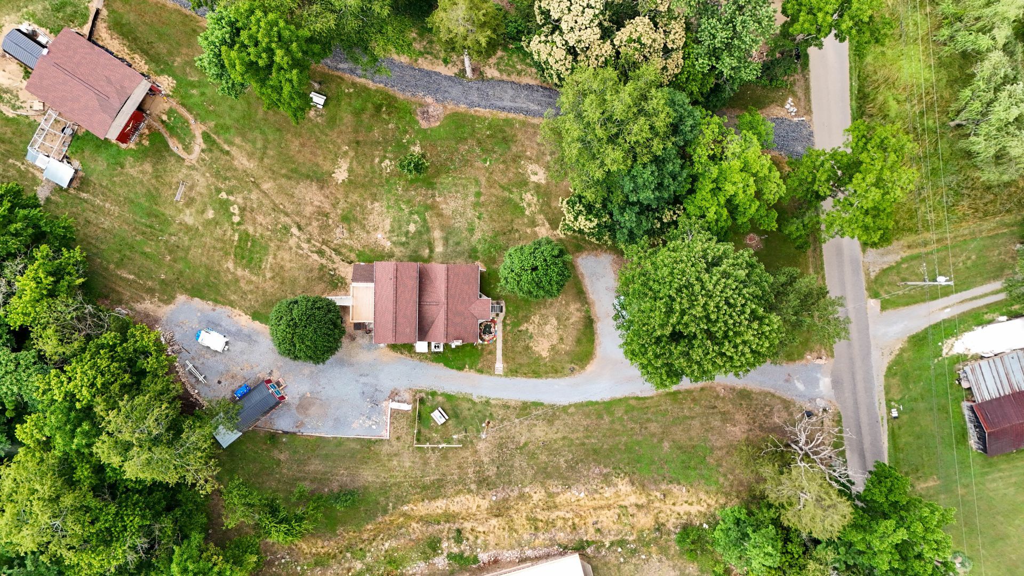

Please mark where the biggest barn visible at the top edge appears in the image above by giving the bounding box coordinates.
[26,27,160,144]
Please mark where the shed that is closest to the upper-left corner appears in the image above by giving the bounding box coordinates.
[2,29,44,69]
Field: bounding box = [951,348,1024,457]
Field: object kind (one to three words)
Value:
barn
